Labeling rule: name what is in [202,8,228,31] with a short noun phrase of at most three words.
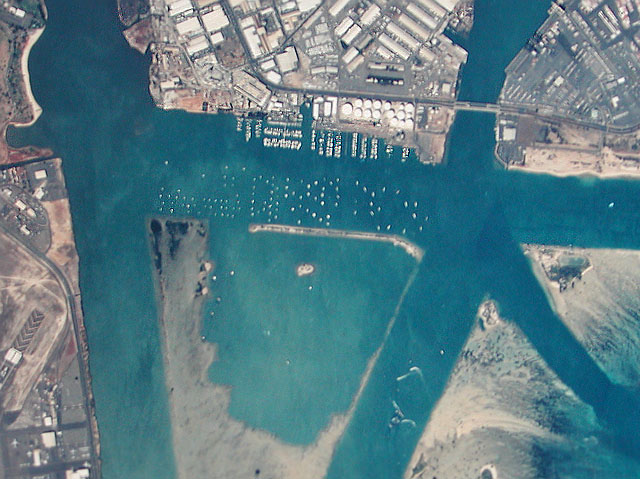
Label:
building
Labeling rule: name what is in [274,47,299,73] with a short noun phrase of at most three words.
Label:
building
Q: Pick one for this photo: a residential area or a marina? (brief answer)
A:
marina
